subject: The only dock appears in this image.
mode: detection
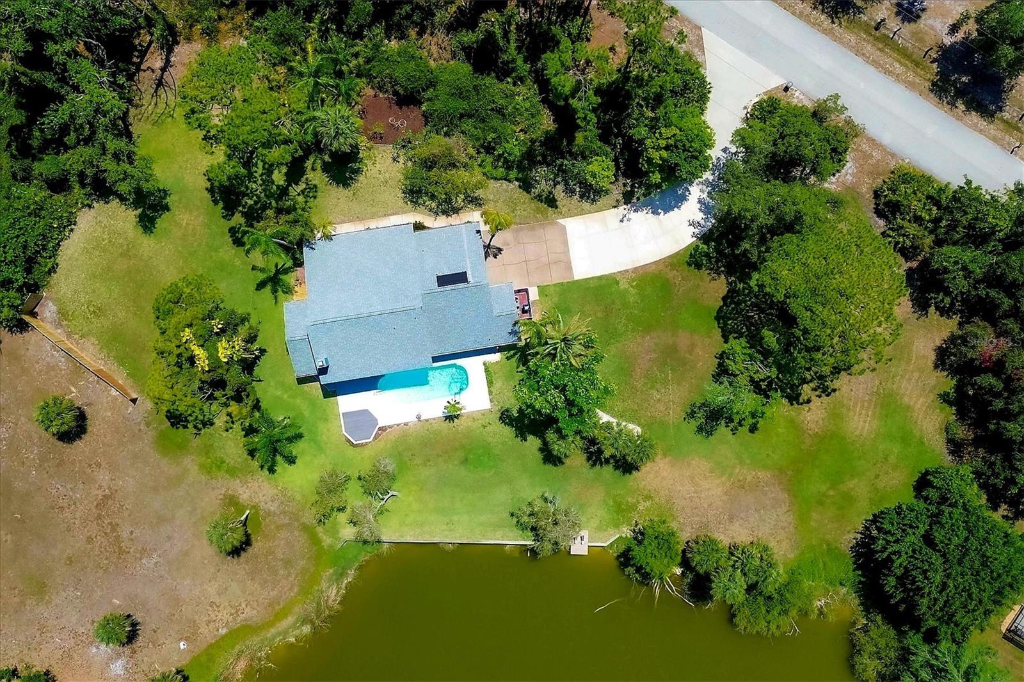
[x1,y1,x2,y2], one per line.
[570,530,589,556]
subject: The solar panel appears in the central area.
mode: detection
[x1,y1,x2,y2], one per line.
[436,270,468,286]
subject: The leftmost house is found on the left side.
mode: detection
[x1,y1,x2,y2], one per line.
[284,221,521,385]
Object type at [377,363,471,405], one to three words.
swimming pool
